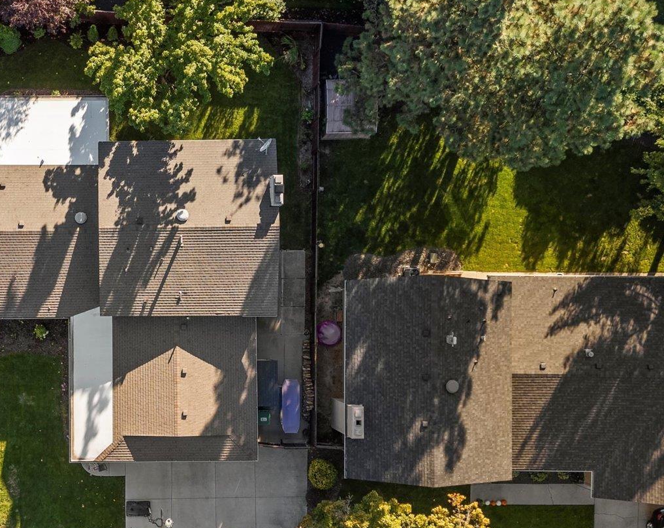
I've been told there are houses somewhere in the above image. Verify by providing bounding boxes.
[0,96,285,465]
[329,274,664,501]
